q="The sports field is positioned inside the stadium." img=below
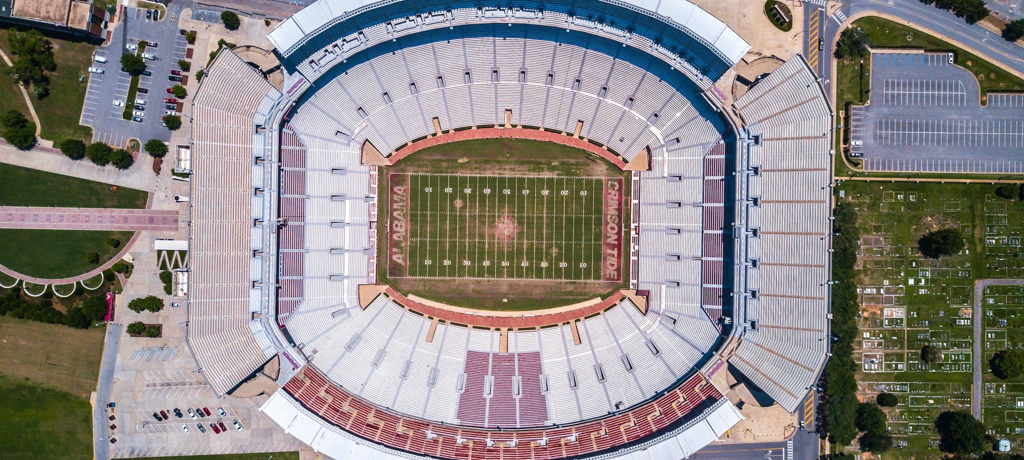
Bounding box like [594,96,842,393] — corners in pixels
[378,125,633,331]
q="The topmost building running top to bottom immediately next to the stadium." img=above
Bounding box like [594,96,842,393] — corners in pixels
[174,144,187,175]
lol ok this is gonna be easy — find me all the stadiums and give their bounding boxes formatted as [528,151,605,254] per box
[183,0,839,460]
